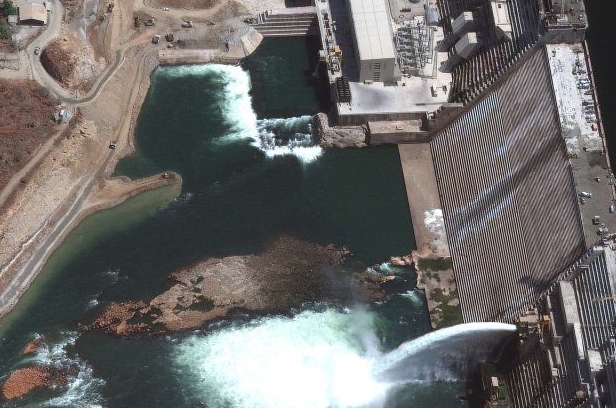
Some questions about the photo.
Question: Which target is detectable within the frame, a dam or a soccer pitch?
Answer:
dam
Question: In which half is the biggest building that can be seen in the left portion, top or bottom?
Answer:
top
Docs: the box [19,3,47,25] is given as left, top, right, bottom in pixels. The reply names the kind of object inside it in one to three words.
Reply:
building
